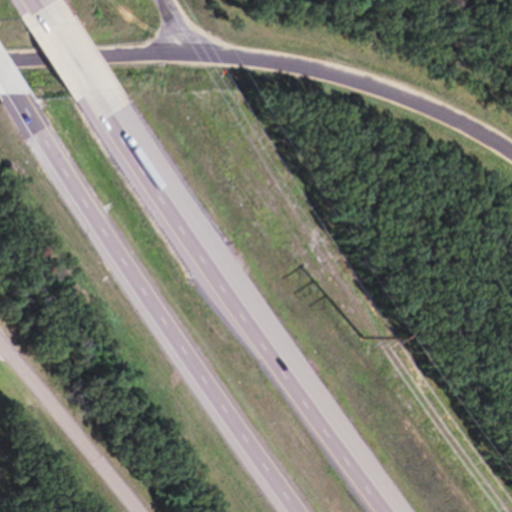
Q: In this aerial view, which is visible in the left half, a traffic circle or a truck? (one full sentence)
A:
Visible in the left half is a truck.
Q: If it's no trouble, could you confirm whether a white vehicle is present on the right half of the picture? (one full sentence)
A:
No, no white vehicle can be made out on the right half of the picture.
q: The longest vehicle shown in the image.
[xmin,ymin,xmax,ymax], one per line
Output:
[120,133,168,192]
